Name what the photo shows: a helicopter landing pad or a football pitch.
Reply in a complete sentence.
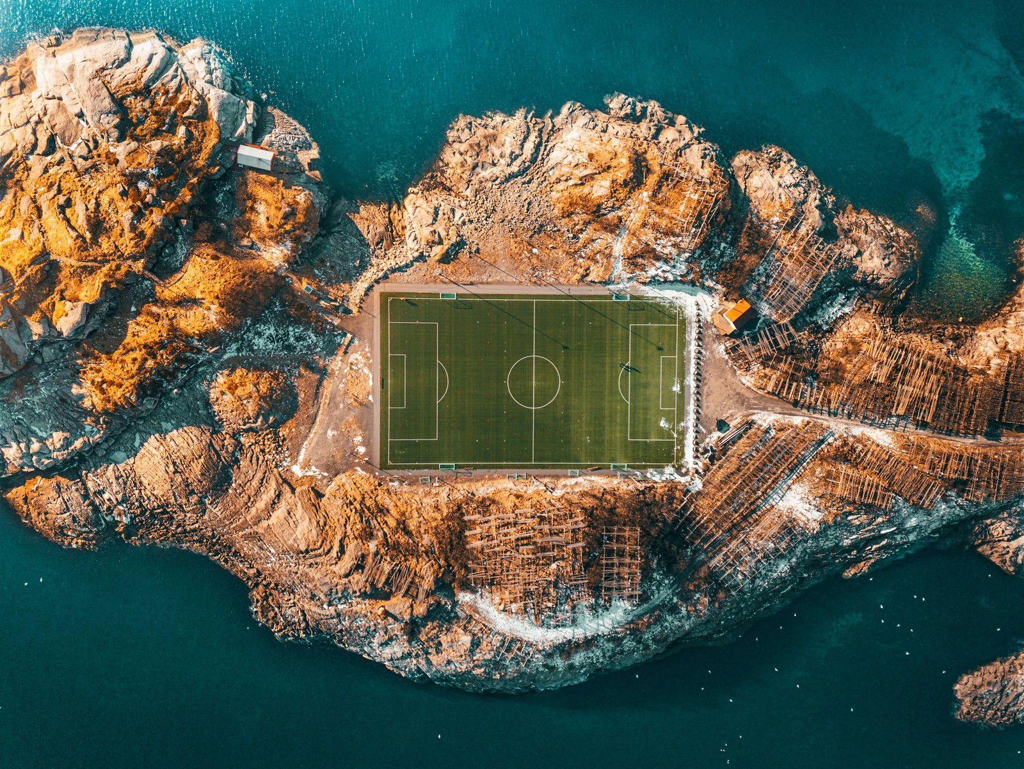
The one in the frame is a football pitch.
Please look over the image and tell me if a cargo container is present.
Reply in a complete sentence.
No, the photo shows no cargo container.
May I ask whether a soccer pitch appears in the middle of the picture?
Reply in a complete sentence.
Yes, the scene does show a soccer pitch in the middle of the picture.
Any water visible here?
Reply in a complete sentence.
Yes, the picture does contain water.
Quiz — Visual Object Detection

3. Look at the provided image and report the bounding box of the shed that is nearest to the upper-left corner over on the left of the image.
[236,141,277,173]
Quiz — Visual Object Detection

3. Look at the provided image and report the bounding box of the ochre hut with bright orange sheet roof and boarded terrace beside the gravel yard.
[710,297,754,337]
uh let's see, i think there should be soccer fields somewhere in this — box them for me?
[380,292,685,470]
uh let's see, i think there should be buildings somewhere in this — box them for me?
[236,141,277,173]
[710,297,754,337]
